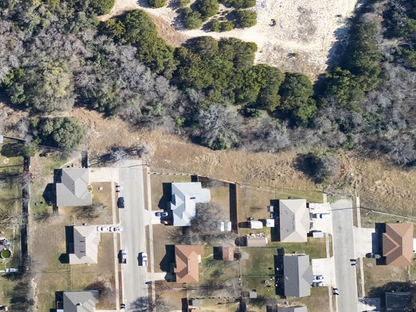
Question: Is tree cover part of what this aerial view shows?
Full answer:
Yes, tree cover shows up in the scene.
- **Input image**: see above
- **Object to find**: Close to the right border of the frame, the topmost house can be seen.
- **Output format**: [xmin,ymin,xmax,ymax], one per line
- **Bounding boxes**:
[380,222,416,266]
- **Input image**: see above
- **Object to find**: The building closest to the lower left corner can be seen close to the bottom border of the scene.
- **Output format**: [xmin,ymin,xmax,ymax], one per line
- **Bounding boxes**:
[56,289,99,312]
